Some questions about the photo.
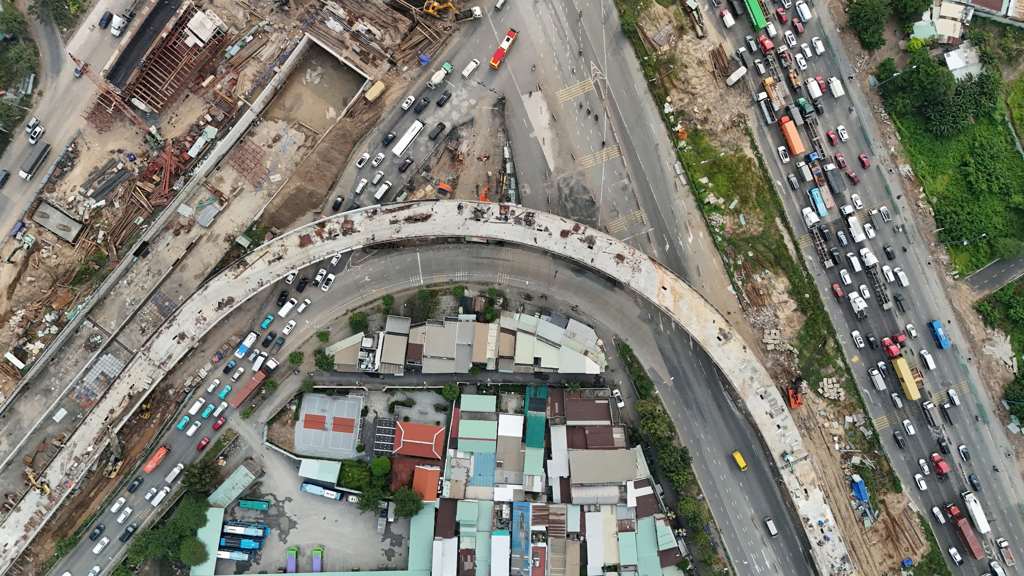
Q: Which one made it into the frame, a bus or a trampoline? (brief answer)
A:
bus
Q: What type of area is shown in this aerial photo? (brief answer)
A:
residential area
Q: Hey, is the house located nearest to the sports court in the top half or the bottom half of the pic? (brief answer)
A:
bottom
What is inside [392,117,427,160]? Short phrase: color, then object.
white bus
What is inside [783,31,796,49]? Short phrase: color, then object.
white vehicle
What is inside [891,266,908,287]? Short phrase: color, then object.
white vehicle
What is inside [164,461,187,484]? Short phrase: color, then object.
white truck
